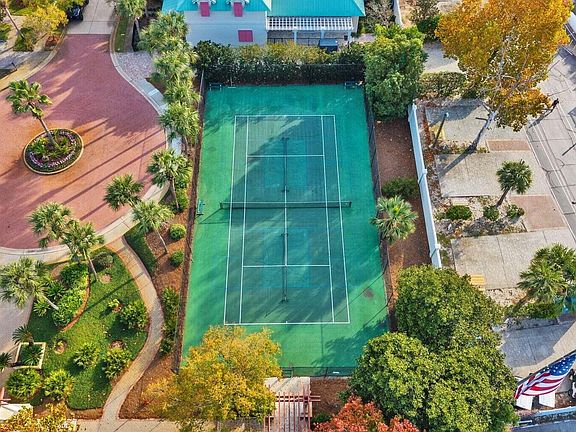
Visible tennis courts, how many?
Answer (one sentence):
The picture shows 1 tennis court.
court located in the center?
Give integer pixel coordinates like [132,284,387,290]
[181,84,393,374]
